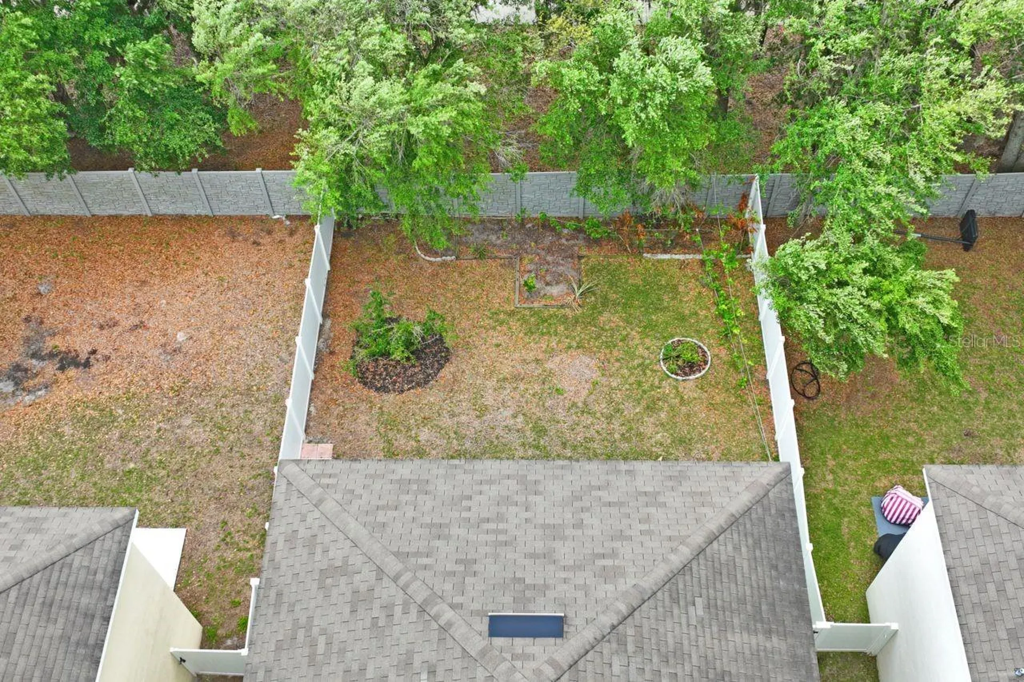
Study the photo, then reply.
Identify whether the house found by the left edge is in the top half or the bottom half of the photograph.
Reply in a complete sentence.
Seen from above, the house found by the left edge lies in the bottom half of the view.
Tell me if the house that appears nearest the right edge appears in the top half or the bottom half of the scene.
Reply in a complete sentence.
Seen from above, the house that appears nearest the right edge lies in the bottom half of the view.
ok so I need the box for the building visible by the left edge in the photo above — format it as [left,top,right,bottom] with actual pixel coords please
[0,505,198,682]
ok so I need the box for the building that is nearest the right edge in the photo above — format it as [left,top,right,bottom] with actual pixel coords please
[867,462,1024,682]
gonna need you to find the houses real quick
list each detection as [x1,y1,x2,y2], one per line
[243,457,822,682]
[0,505,198,682]
[867,462,1024,682]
